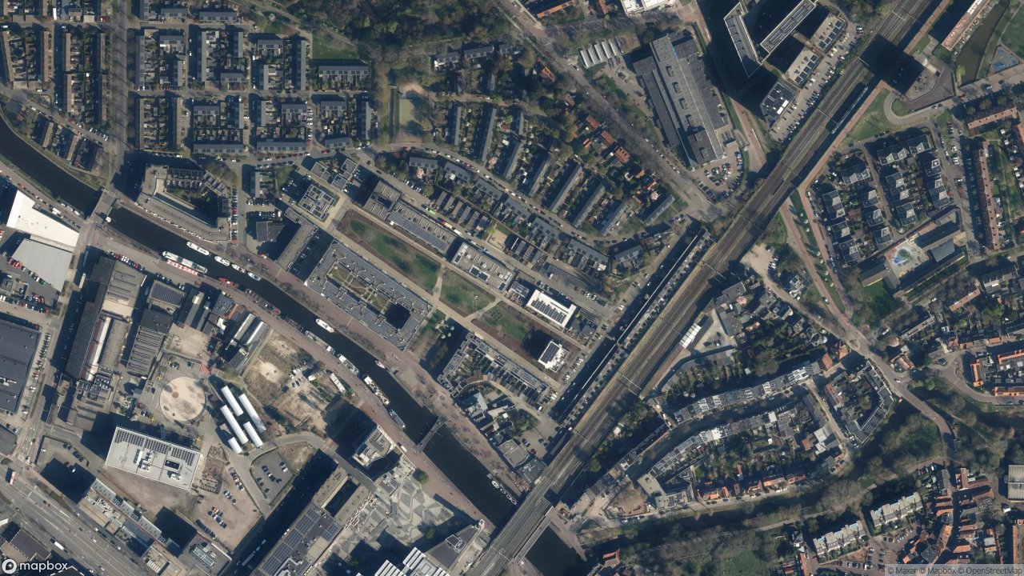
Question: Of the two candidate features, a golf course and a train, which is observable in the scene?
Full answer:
There is a train in the scene.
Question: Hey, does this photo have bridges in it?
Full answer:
Yes, this view includes a bridge.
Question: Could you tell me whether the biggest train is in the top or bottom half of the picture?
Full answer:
The biggest train sits in the top half of the picture.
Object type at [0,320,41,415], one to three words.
building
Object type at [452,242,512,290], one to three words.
building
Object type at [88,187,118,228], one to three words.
bridge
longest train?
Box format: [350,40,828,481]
[833,87,867,132]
